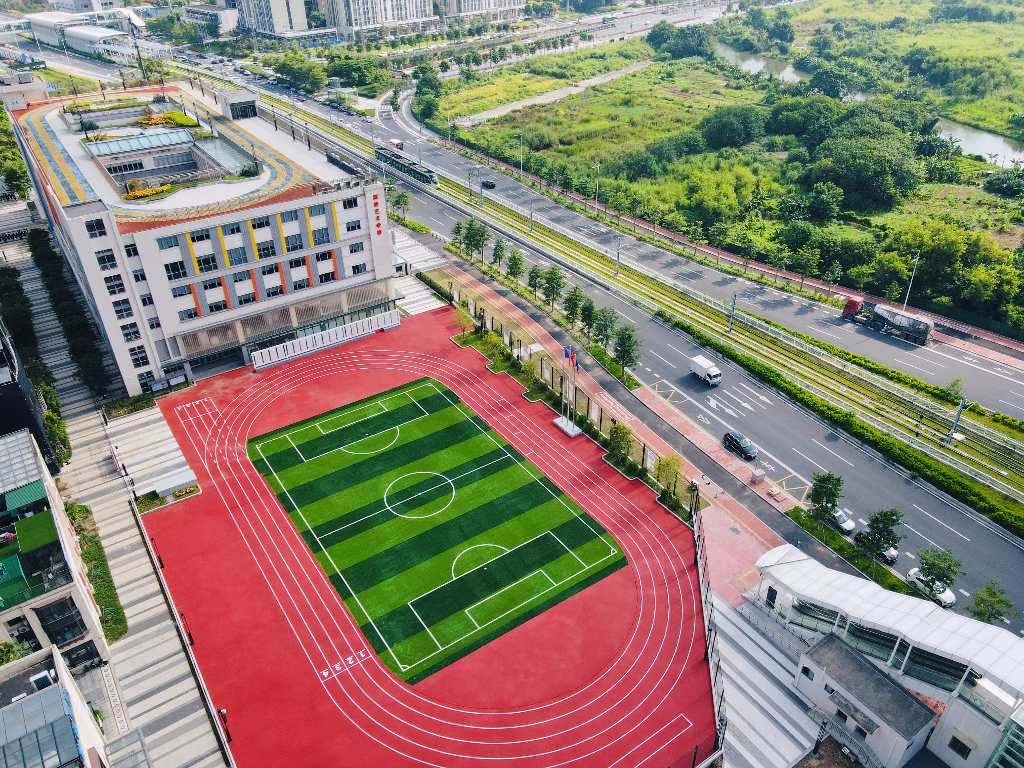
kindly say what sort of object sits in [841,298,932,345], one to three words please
truck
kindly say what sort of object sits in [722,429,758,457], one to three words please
car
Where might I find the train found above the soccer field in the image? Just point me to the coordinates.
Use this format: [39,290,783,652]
[369,145,439,188]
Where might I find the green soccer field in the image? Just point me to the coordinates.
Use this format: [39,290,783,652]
[248,377,634,689]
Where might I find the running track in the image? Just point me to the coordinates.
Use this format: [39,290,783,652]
[140,304,720,768]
